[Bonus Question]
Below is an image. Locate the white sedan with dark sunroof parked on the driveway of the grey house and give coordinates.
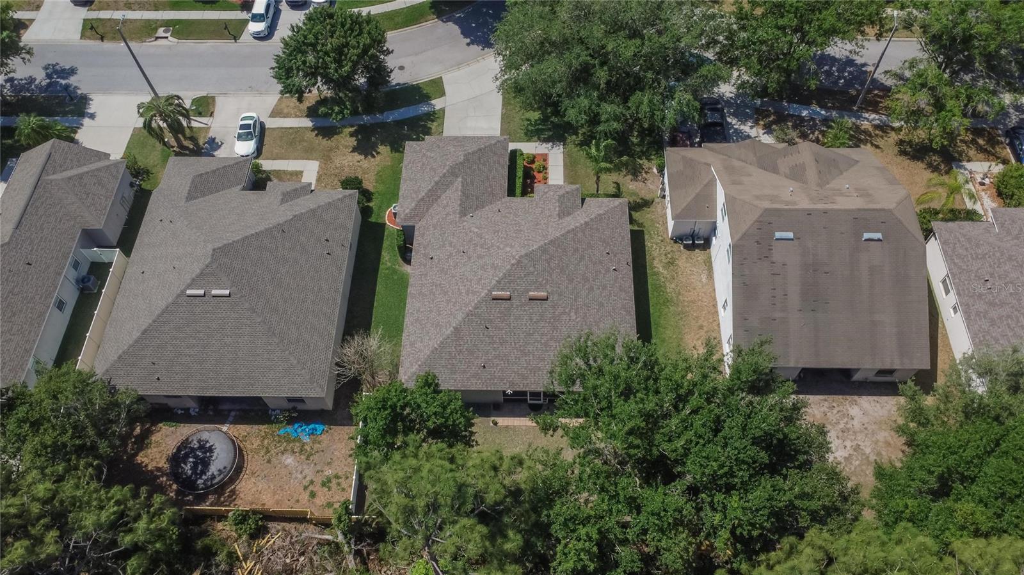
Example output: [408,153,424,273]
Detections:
[232,111,263,160]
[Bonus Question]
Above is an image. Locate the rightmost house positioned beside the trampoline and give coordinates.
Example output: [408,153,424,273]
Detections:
[86,156,360,408]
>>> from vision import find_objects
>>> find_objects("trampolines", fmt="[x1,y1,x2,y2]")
[170,425,243,492]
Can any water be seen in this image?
No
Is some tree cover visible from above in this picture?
Yes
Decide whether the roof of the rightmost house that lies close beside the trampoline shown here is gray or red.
gray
